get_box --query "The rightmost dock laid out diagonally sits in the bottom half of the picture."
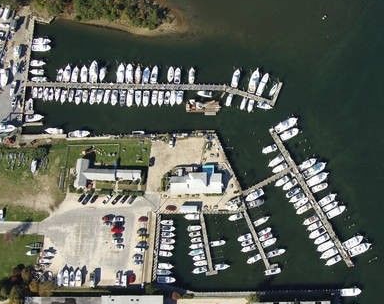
[269,128,353,268]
